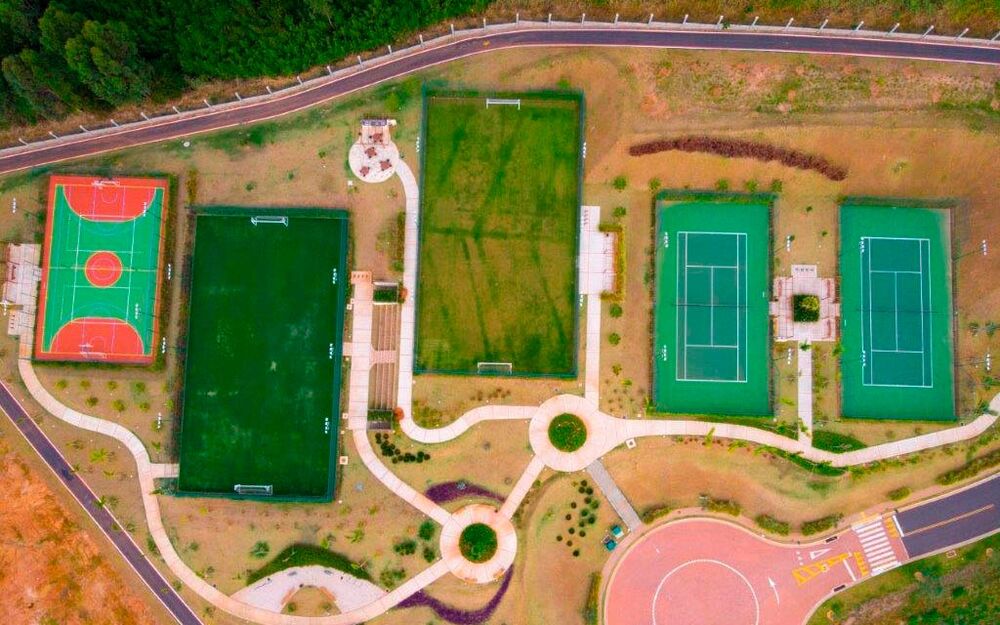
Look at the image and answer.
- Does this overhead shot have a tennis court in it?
Yes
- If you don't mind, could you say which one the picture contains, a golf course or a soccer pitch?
soccer pitch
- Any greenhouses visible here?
No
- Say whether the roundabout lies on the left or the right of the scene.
right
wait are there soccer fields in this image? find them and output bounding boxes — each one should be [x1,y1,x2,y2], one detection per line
[179,215,349,495]
[416,98,579,374]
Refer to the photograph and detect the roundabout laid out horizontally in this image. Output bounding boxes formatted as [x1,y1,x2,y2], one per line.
[602,511,910,625]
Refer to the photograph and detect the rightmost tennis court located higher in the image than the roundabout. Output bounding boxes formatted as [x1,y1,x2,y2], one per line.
[841,206,956,420]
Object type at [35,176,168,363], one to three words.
sports court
